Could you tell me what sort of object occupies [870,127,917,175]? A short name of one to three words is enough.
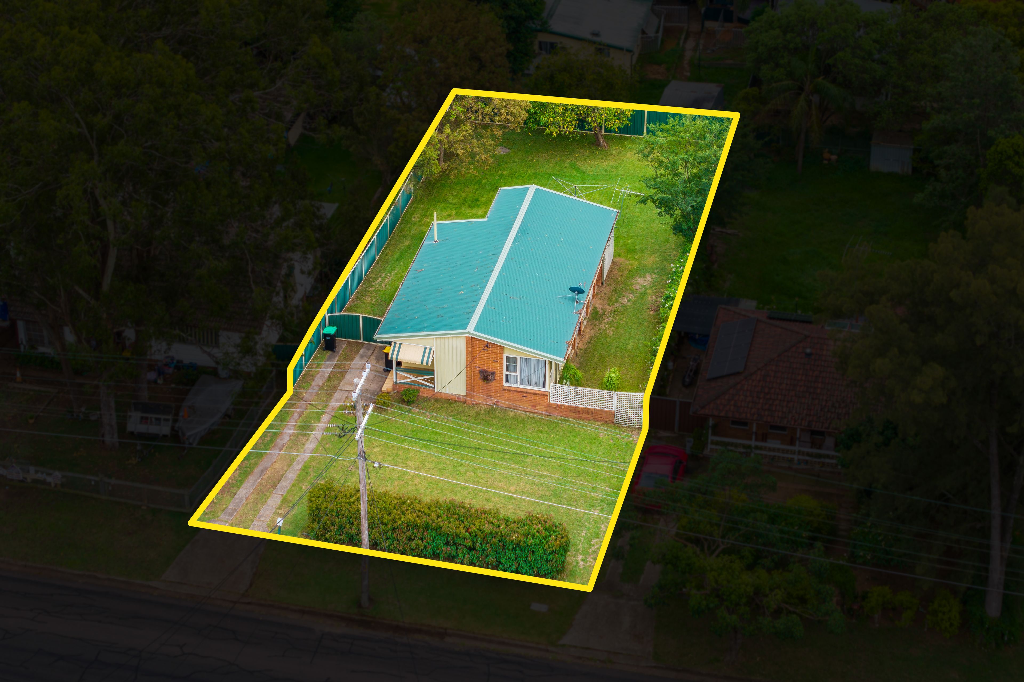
shed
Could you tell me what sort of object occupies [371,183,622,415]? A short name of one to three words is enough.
house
